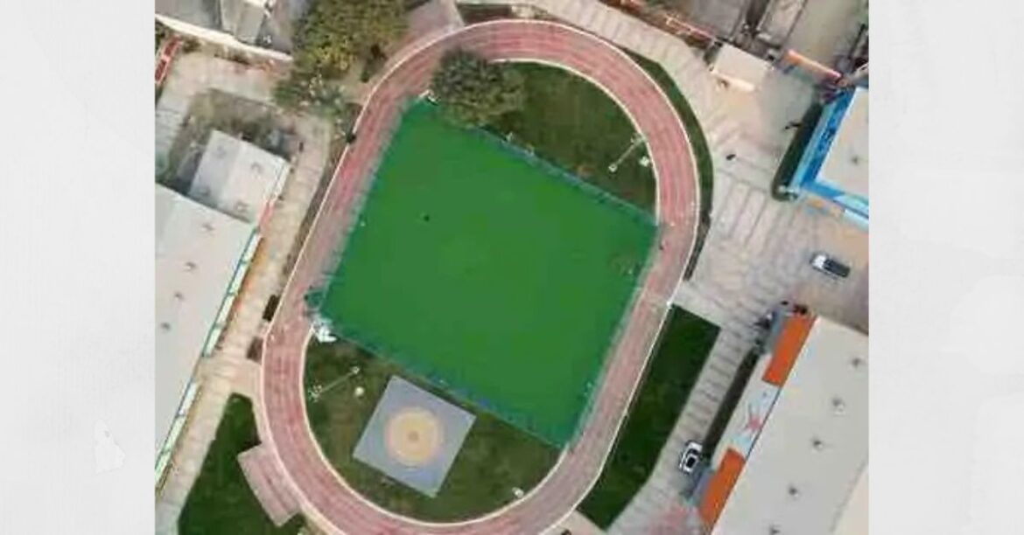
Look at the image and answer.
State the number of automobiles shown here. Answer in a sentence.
There are 2 automobiles in the image.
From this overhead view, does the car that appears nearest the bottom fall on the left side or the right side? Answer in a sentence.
The car that appears nearest the bottom sits on the right side.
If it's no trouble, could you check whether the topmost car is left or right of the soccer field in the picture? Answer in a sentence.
In the image, the topmost car sits on the right side of the soccer field.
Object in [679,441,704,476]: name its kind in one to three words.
car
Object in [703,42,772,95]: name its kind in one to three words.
building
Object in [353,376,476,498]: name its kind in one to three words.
sports court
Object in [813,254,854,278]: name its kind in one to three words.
car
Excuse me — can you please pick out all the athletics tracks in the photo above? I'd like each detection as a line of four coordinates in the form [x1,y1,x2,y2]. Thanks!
[261,20,700,535]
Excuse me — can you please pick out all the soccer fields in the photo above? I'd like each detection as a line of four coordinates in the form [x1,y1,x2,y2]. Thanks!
[325,98,654,440]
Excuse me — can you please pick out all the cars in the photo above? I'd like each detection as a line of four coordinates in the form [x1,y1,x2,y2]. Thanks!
[813,254,854,278]
[679,441,704,476]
